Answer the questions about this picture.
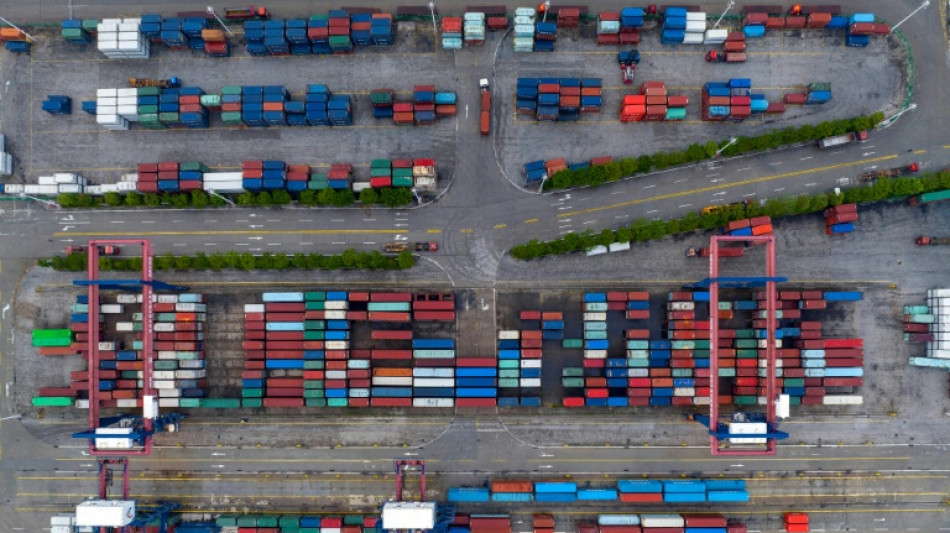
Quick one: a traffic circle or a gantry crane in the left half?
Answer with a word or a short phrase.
gantry crane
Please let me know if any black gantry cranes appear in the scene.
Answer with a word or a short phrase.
No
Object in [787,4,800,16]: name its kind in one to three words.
vehicle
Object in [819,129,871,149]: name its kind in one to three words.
vehicle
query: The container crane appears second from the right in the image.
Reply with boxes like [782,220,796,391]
[383,454,469,533]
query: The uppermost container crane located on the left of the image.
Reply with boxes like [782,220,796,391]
[72,237,196,457]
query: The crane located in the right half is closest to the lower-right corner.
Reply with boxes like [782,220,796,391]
[675,234,791,457]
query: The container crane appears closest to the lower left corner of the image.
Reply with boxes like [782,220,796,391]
[76,454,191,533]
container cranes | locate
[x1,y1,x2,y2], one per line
[76,454,191,533]
[383,454,469,533]
[675,234,791,457]
[72,237,196,457]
